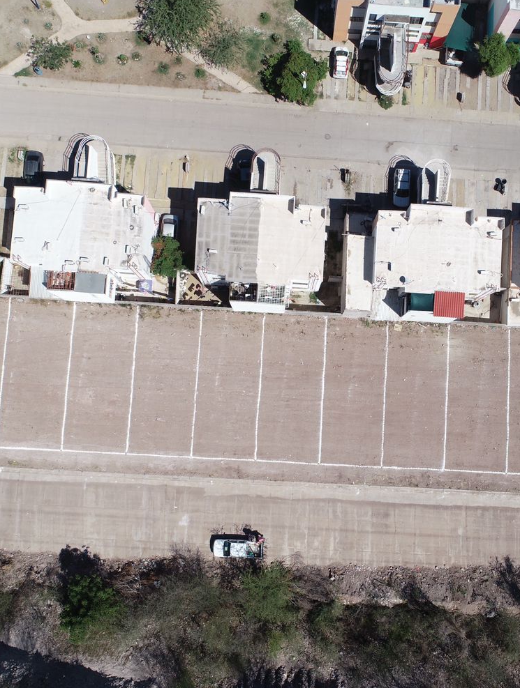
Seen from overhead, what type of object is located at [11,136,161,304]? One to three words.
building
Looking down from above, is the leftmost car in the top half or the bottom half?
top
